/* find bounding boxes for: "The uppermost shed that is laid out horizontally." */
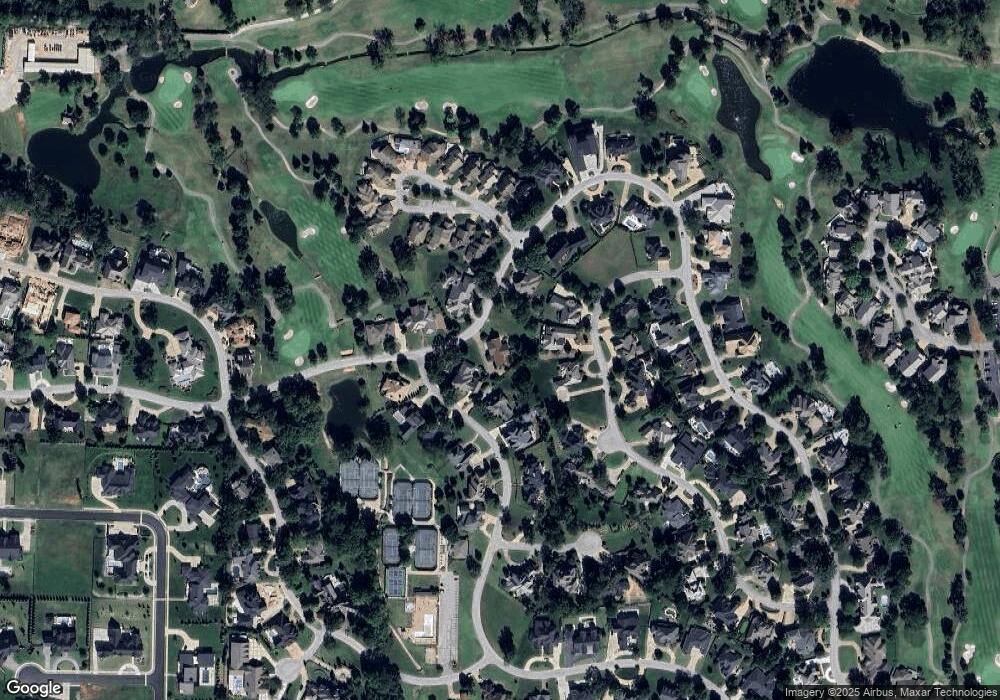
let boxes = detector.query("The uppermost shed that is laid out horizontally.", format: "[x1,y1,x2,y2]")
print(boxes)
[23,43,94,72]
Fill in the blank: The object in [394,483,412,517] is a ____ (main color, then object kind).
gray tennis court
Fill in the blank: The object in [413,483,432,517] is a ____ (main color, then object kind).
gray tennis court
